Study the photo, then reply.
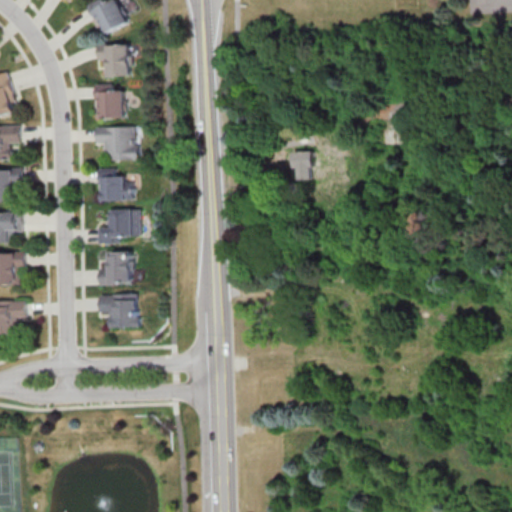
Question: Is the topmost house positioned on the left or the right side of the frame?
left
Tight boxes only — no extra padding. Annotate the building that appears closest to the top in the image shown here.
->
[87,0,124,33]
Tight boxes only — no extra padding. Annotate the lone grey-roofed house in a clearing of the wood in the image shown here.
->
[289,152,312,180]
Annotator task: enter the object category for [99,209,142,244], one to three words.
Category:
house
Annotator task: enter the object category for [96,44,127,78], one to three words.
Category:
house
